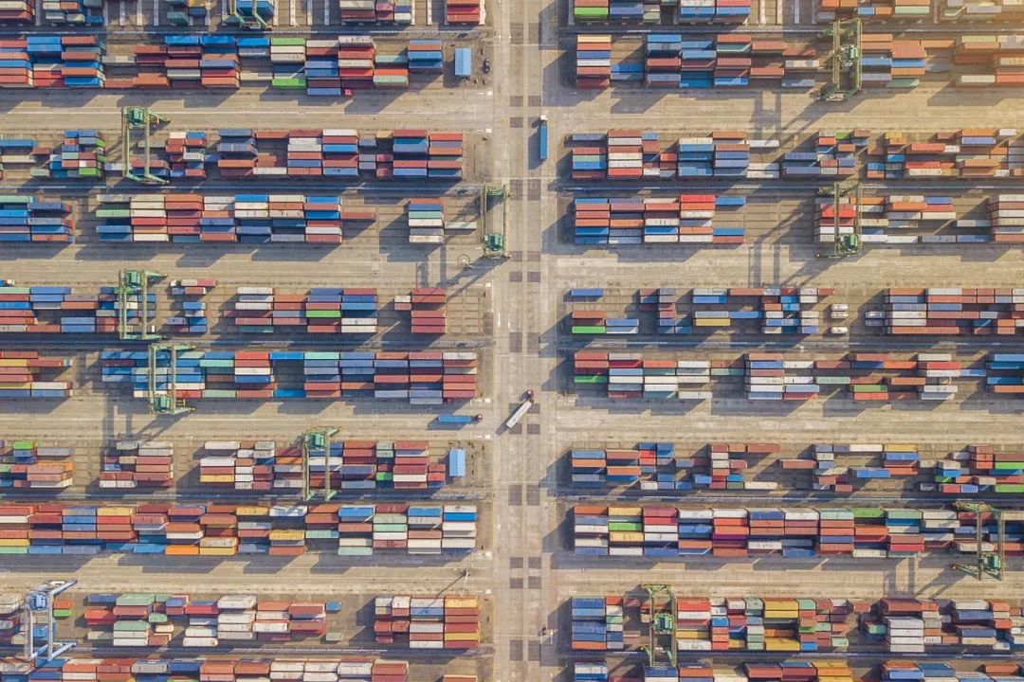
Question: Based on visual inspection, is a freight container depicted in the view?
Yes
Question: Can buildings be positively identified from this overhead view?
Yes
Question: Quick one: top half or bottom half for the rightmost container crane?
bottom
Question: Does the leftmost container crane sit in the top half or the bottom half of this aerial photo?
bottom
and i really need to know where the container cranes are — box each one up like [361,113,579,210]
[23,574,78,660]
[118,266,169,341]
[302,426,346,502]
[147,345,198,418]
[120,106,172,188]
[817,20,864,107]
[639,583,678,666]
[816,184,863,258]
[478,184,516,258]
[954,504,1007,584]
[228,0,275,33]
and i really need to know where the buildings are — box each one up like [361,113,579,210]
[455,47,471,77]
[449,448,466,476]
